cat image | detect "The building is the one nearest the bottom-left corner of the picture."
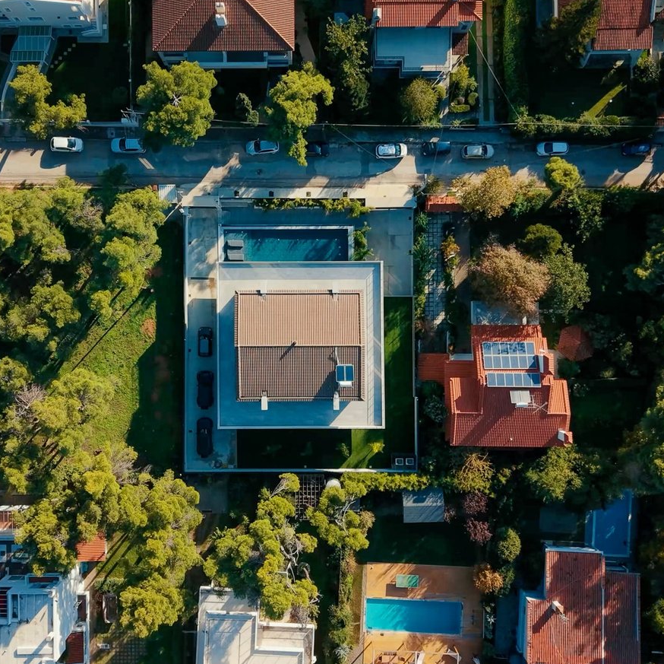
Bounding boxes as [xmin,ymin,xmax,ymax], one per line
[0,500,113,664]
